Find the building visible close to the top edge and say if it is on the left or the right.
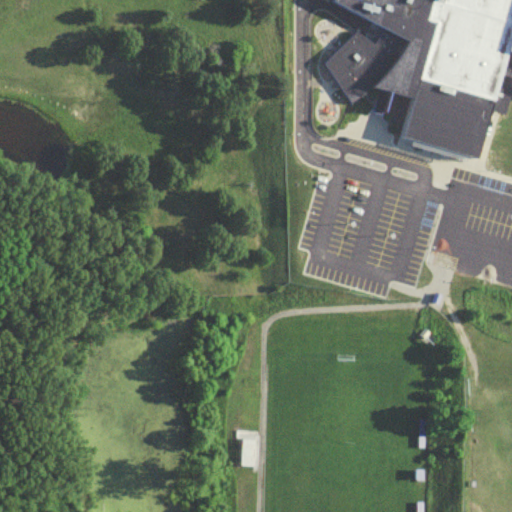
right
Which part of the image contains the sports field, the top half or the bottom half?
bottom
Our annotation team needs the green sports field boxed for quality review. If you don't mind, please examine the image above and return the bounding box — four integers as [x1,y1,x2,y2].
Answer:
[262,308,429,512]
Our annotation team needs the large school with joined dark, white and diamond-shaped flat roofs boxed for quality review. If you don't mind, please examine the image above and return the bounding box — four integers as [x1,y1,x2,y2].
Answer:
[326,0,512,162]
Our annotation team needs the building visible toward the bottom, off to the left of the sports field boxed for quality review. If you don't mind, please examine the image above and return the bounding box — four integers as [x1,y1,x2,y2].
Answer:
[236,429,259,468]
